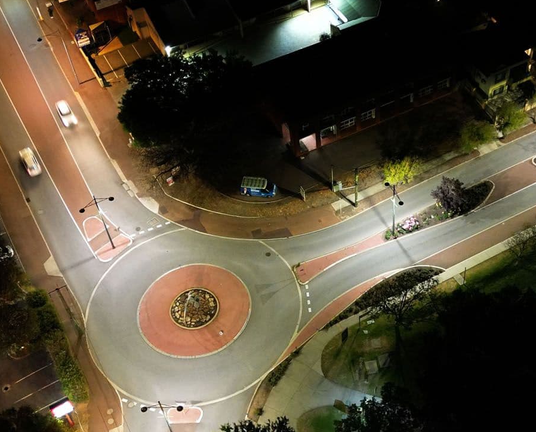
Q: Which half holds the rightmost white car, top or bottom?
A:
top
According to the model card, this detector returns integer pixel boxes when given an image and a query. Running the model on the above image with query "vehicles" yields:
[18,149,42,177]
[239,173,278,195]
[56,101,77,127]
[0,244,15,261]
